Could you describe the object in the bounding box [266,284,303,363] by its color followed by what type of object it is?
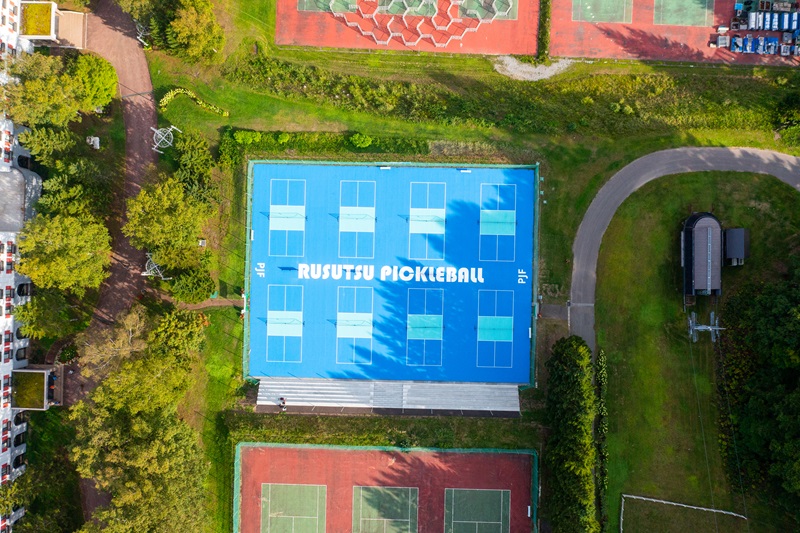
blue sports court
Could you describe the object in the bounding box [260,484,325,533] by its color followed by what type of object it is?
green tennis court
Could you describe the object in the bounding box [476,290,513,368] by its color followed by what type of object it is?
blue sports court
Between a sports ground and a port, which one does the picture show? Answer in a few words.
sports ground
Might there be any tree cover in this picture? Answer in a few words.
Yes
